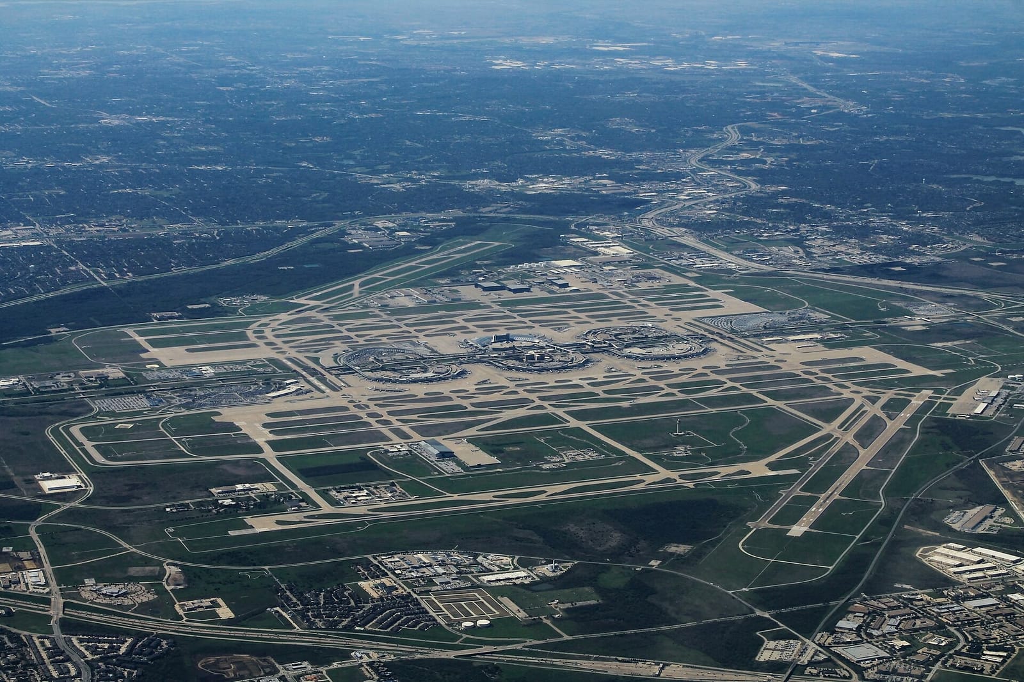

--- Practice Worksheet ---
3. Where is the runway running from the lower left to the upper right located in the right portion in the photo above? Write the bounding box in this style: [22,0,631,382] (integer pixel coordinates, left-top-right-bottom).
[794,389,928,529]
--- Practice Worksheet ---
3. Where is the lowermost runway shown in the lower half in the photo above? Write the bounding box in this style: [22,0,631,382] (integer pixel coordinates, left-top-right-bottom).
[255,474,772,530]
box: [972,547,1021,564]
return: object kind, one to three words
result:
building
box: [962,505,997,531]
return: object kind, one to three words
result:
building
